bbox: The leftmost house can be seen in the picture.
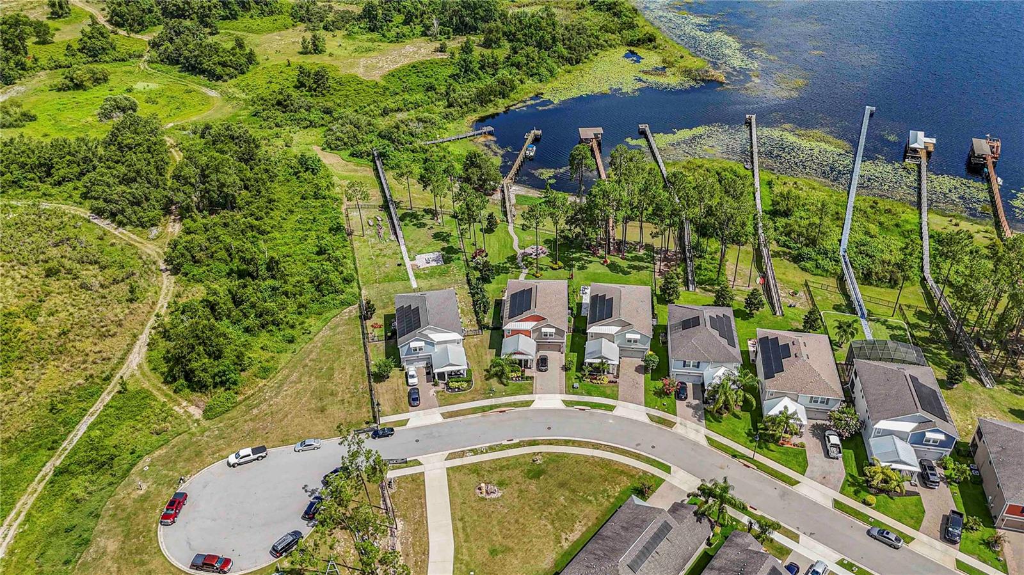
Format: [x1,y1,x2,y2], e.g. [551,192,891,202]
[392,288,468,384]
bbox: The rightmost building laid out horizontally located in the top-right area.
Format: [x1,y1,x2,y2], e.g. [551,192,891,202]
[966,141,1013,161]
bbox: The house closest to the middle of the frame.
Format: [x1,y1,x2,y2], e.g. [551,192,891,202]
[501,279,567,370]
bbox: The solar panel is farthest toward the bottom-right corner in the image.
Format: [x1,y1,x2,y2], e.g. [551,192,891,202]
[910,375,949,423]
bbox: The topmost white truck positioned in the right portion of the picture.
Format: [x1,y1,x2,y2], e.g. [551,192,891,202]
[823,430,844,457]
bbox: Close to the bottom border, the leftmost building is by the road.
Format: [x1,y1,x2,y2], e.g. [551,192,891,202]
[559,497,711,575]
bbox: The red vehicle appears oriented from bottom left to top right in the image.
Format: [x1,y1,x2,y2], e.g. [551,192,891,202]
[160,491,188,524]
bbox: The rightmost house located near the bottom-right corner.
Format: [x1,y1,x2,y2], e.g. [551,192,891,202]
[961,417,1024,533]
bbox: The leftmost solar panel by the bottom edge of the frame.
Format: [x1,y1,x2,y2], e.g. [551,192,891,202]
[627,521,672,574]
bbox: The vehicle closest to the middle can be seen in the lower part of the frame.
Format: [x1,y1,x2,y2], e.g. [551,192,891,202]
[537,353,549,372]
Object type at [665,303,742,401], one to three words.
house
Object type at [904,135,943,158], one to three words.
building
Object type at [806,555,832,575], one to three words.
car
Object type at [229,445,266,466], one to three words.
truck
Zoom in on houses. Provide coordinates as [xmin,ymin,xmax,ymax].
[700,534,782,575]
[501,279,567,370]
[559,497,711,575]
[584,282,652,374]
[848,358,959,483]
[665,303,742,401]
[752,329,842,434]
[392,288,468,384]
[961,417,1024,533]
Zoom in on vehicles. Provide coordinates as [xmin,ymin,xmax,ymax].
[408,387,420,407]
[783,557,802,575]
[866,526,904,550]
[229,445,266,466]
[406,367,418,385]
[806,555,832,575]
[537,353,549,372]
[188,553,234,574]
[268,531,304,558]
[160,491,188,524]
[823,430,844,457]
[944,509,964,544]
[919,461,942,486]
[368,425,397,441]
[293,438,323,453]
[299,495,327,523]
[676,381,688,401]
